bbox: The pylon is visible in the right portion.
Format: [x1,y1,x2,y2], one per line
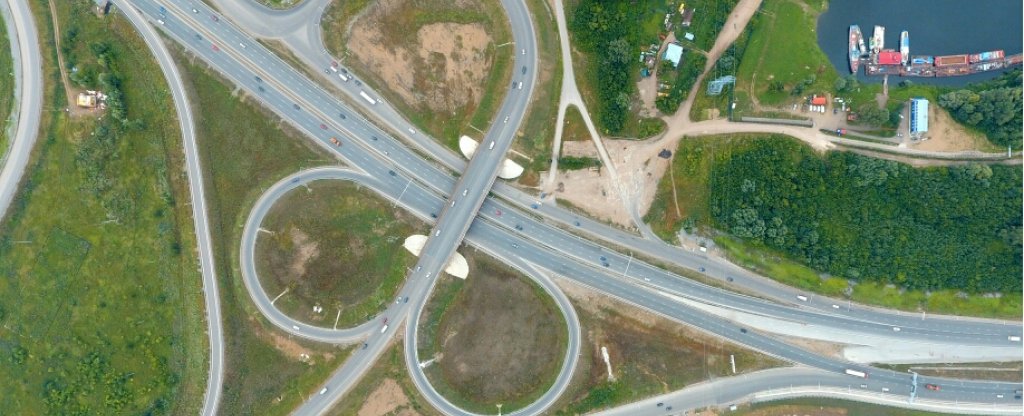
[707,76,738,95]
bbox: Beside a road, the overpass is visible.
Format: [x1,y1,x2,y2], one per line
[404,135,523,280]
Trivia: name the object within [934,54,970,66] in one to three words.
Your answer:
ship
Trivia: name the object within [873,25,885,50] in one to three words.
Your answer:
boat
